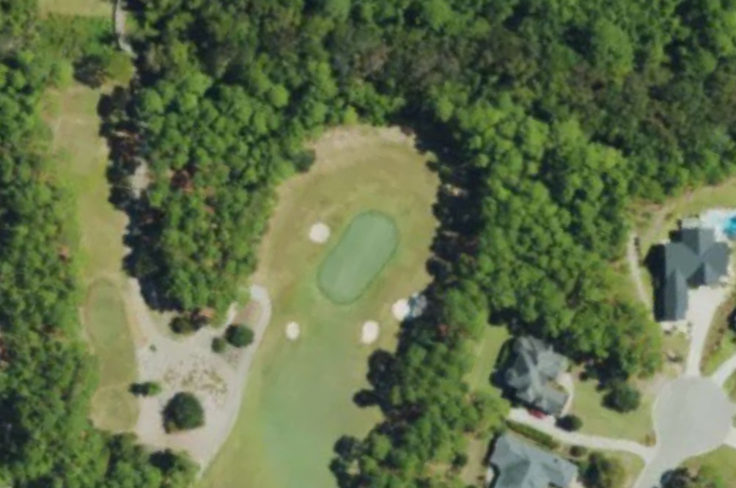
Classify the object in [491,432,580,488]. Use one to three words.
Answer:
house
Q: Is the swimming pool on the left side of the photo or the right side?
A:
right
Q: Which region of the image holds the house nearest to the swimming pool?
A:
right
